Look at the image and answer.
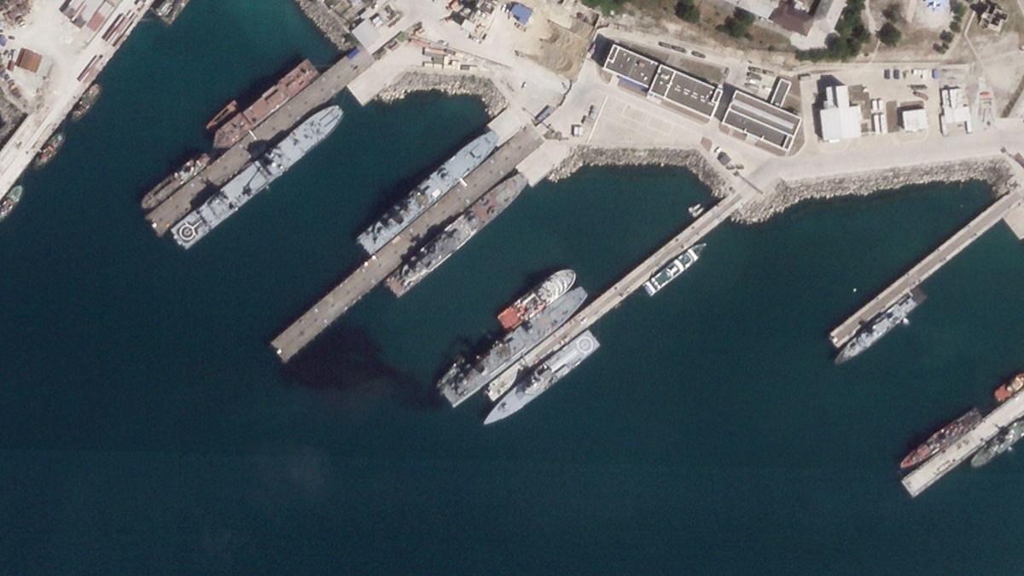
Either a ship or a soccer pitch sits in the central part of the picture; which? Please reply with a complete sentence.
The one visible in the central part of the picture is a ship.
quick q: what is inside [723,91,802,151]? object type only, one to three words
building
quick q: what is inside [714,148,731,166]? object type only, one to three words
vehicle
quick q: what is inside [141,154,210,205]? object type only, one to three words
ship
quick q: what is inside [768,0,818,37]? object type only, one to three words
house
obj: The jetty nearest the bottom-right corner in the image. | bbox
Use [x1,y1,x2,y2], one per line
[902,391,1024,498]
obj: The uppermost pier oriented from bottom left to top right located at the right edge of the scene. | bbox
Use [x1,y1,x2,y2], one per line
[830,182,1024,348]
